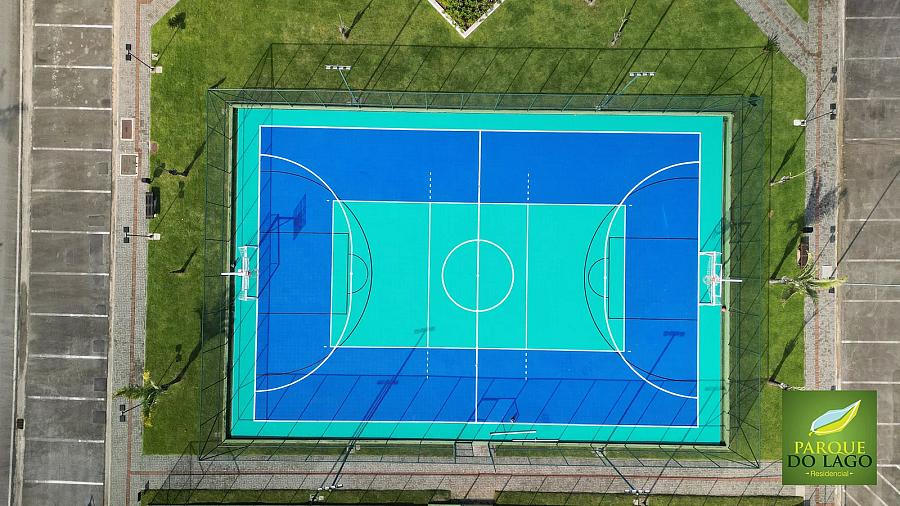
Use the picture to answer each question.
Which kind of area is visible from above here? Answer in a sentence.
What you see here is a sports ground.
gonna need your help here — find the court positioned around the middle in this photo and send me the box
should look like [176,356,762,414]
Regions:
[229,111,727,445]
